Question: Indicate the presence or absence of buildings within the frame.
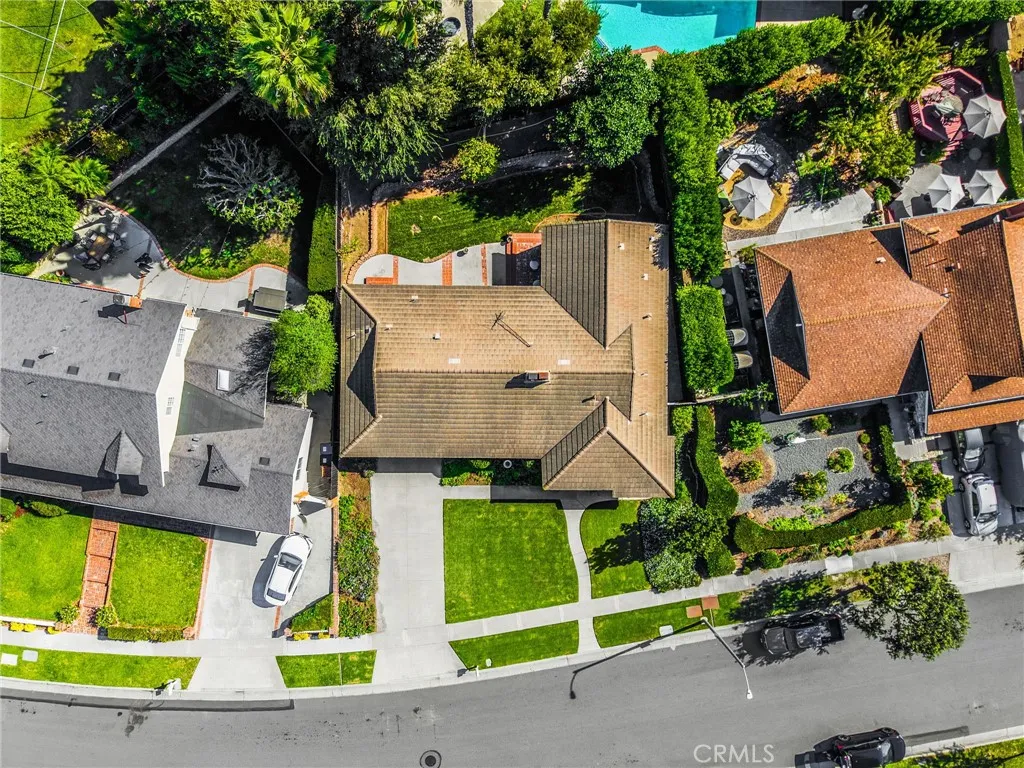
Yes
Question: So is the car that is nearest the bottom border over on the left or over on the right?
right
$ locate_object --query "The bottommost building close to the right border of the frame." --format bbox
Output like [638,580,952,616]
[749,195,1024,434]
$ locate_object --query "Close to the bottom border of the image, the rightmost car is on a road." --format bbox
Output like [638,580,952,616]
[806,725,904,768]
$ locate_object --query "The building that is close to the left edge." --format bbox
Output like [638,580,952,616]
[0,273,317,534]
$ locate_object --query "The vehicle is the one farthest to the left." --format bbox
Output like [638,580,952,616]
[260,530,316,609]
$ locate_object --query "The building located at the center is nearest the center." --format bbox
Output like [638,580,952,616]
[339,217,675,497]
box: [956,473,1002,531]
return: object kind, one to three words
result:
car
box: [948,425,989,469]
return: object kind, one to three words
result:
car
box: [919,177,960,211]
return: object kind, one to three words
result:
umbrella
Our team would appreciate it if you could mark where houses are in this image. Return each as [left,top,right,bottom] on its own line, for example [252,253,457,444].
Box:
[339,217,675,497]
[0,273,317,534]
[749,195,1024,434]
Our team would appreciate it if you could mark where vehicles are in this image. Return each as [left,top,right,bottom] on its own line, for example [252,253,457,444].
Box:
[806,725,904,768]
[956,473,1002,531]
[260,530,316,609]
[948,425,989,469]
[759,609,848,653]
